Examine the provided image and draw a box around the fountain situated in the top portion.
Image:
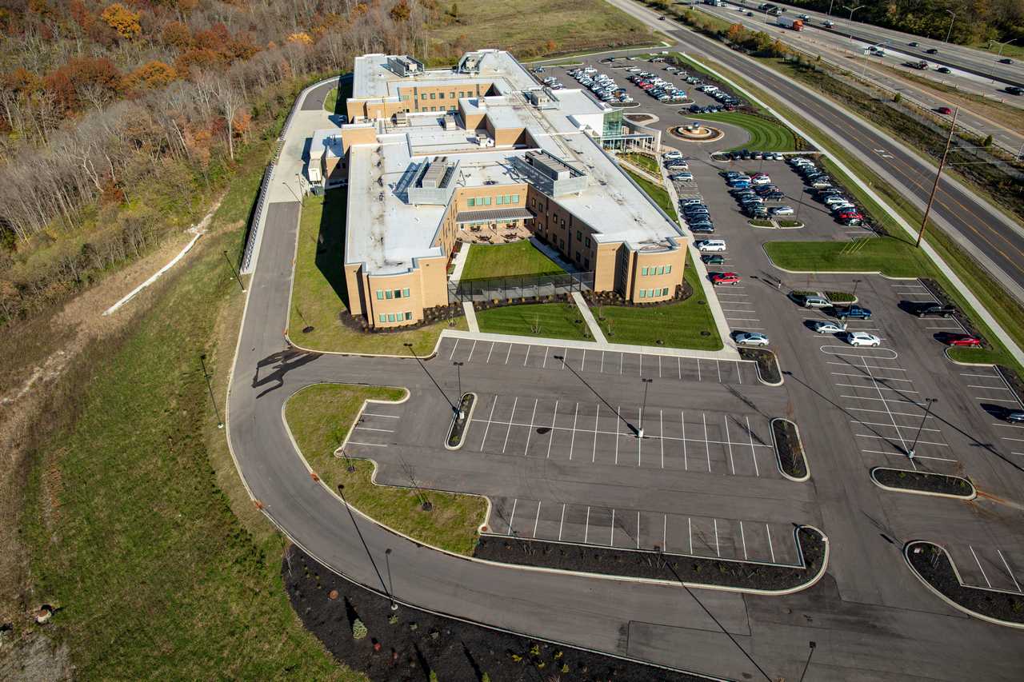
[679,121,711,138]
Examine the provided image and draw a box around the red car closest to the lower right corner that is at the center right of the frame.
[945,334,983,349]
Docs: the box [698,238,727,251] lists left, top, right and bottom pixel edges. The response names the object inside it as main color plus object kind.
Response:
white vehicle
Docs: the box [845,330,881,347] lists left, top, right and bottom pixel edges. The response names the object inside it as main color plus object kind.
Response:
white car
